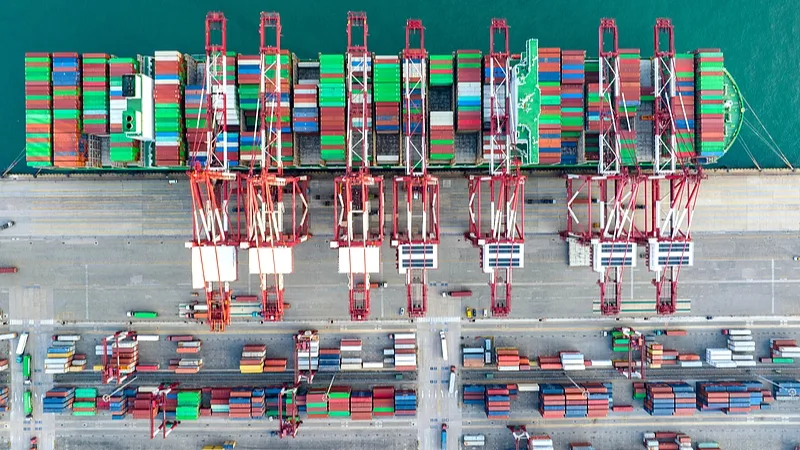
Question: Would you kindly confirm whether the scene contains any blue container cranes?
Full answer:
No, the picture doesn't show any blue container crane.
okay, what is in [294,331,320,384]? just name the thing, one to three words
container crane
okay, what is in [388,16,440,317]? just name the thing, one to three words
container crane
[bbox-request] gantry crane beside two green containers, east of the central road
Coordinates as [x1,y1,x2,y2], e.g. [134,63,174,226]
[612,330,646,384]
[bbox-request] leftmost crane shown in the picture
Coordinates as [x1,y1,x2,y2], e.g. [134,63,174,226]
[102,332,138,386]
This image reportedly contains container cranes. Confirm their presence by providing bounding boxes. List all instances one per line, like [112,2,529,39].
[149,384,183,440]
[605,14,705,316]
[241,9,317,322]
[329,9,390,323]
[388,16,440,317]
[294,331,320,384]
[551,14,644,317]
[185,9,266,334]
[102,332,138,386]
[612,330,646,384]
[278,383,304,441]
[459,15,526,317]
